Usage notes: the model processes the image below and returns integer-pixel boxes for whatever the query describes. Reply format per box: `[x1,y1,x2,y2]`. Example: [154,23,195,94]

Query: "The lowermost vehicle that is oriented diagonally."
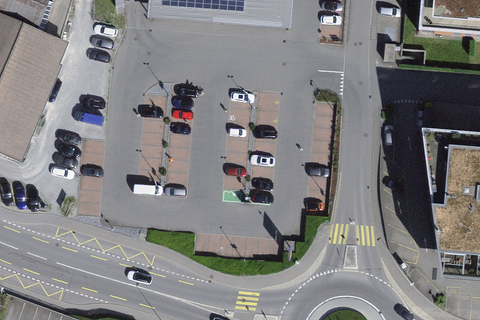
[393,304,415,320]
